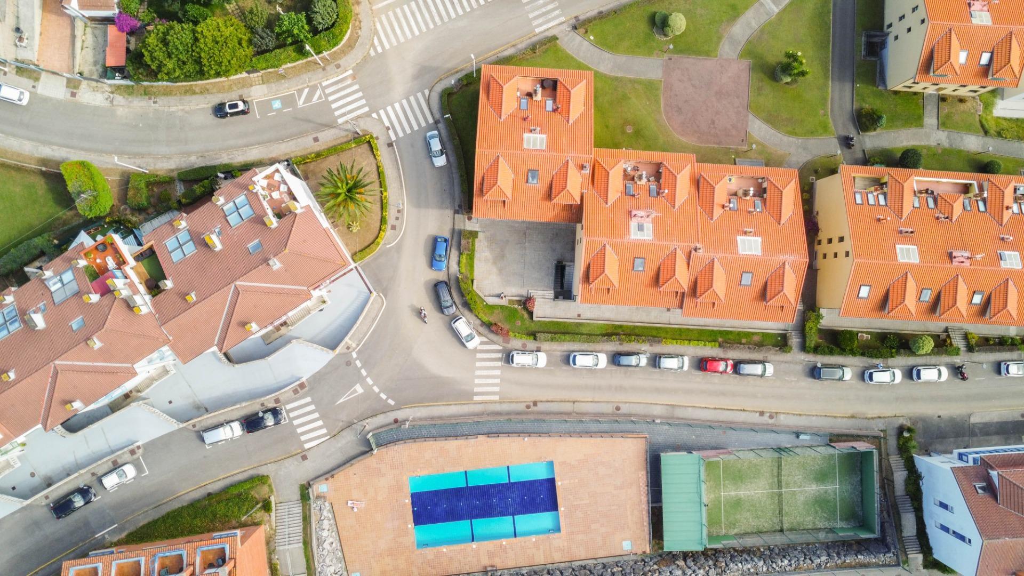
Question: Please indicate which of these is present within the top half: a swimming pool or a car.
car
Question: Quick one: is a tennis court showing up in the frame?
Yes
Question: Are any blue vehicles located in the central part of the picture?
Yes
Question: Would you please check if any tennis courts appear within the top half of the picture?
No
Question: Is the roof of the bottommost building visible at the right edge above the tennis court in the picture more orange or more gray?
orange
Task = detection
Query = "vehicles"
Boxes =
[569,351,607,370]
[421,309,429,325]
[0,83,33,106]
[215,99,251,119]
[910,365,948,384]
[97,462,140,491]
[656,354,689,372]
[243,408,287,433]
[451,315,480,350]
[958,370,969,382]
[847,133,855,150]
[699,356,733,375]
[431,236,450,271]
[998,360,1024,376]
[51,486,97,518]
[736,360,773,378]
[426,130,447,167]
[863,367,902,386]
[509,350,546,369]
[434,280,456,316]
[813,364,852,383]
[614,351,648,369]
[201,420,245,445]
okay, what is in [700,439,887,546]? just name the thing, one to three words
tennis court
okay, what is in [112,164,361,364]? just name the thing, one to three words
house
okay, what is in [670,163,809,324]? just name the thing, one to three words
building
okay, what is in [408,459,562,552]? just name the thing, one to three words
swimming pool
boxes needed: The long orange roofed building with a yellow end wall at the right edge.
[811,164,1024,327]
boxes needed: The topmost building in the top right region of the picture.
[879,0,1024,98]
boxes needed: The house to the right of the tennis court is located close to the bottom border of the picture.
[914,441,1024,576]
